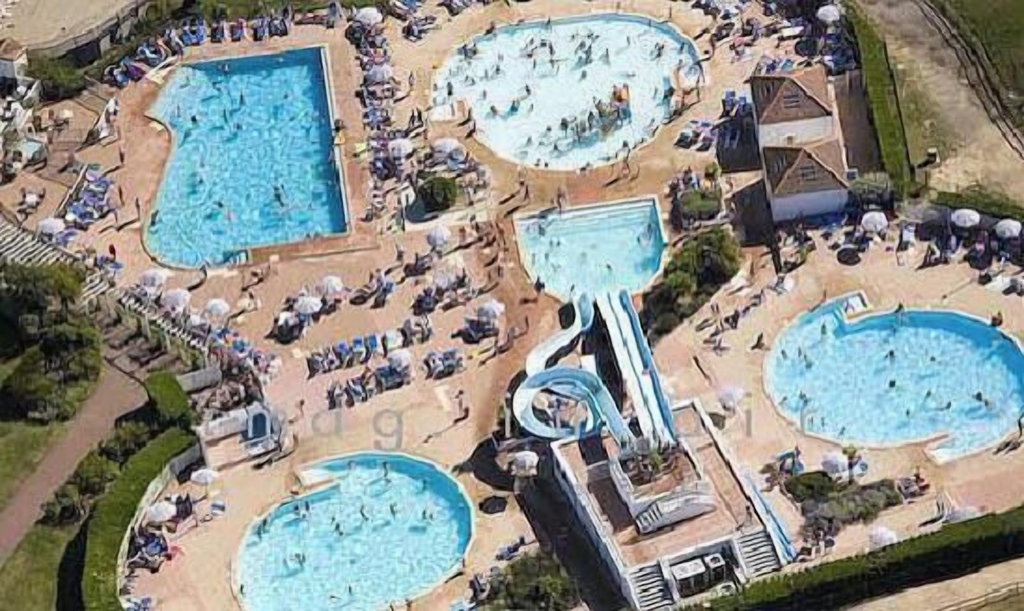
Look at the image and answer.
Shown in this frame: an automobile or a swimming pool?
swimming pool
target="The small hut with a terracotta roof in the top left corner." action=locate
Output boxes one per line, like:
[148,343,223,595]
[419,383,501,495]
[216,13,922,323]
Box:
[0,37,31,92]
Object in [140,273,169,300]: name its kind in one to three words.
umbrella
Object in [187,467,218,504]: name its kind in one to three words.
umbrella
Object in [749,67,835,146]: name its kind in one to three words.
house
